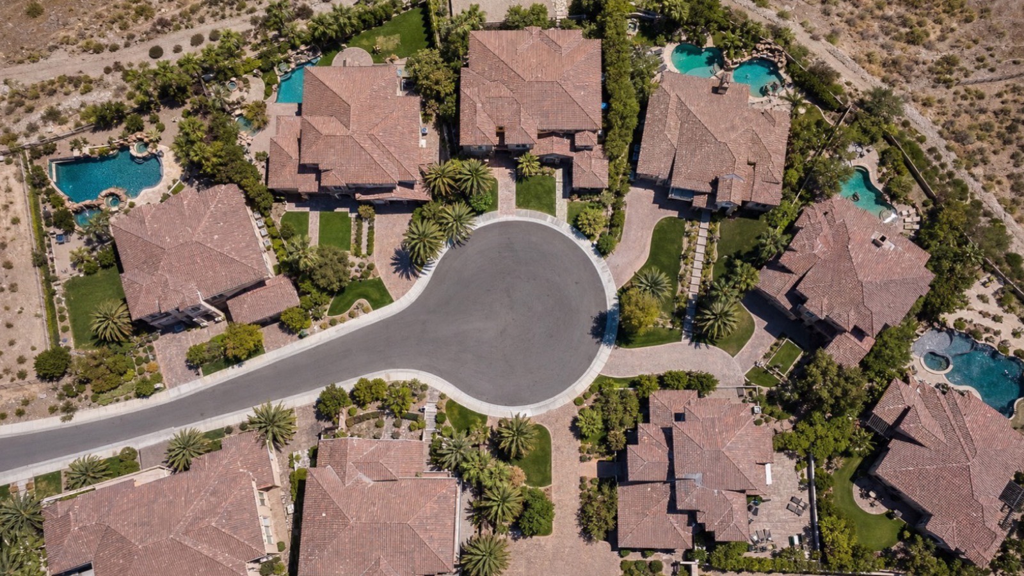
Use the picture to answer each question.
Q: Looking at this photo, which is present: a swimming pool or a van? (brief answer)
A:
swimming pool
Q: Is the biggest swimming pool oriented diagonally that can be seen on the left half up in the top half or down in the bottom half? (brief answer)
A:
top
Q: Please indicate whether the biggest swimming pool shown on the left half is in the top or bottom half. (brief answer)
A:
top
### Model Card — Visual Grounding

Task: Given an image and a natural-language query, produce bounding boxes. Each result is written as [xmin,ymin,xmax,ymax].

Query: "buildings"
[618,390,775,550]
[109,183,301,327]
[267,65,434,206]
[296,438,457,576]
[754,196,935,367]
[864,374,1024,569]
[459,25,611,194]
[40,429,283,576]
[636,66,791,216]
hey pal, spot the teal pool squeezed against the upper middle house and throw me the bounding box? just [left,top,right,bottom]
[271,55,323,107]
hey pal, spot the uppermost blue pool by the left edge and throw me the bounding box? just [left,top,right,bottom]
[46,144,165,205]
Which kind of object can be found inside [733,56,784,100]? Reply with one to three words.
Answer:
swimming pool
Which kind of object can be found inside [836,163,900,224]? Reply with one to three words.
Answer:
swimming pool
